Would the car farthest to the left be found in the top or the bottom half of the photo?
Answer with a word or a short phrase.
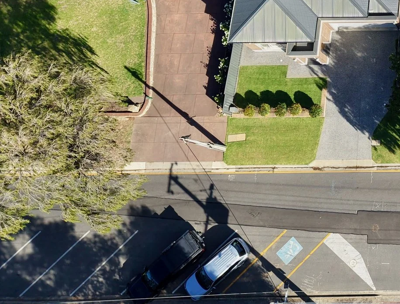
bottom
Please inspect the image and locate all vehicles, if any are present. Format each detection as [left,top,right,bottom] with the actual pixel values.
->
[179,231,246,301]
[129,233,208,304]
